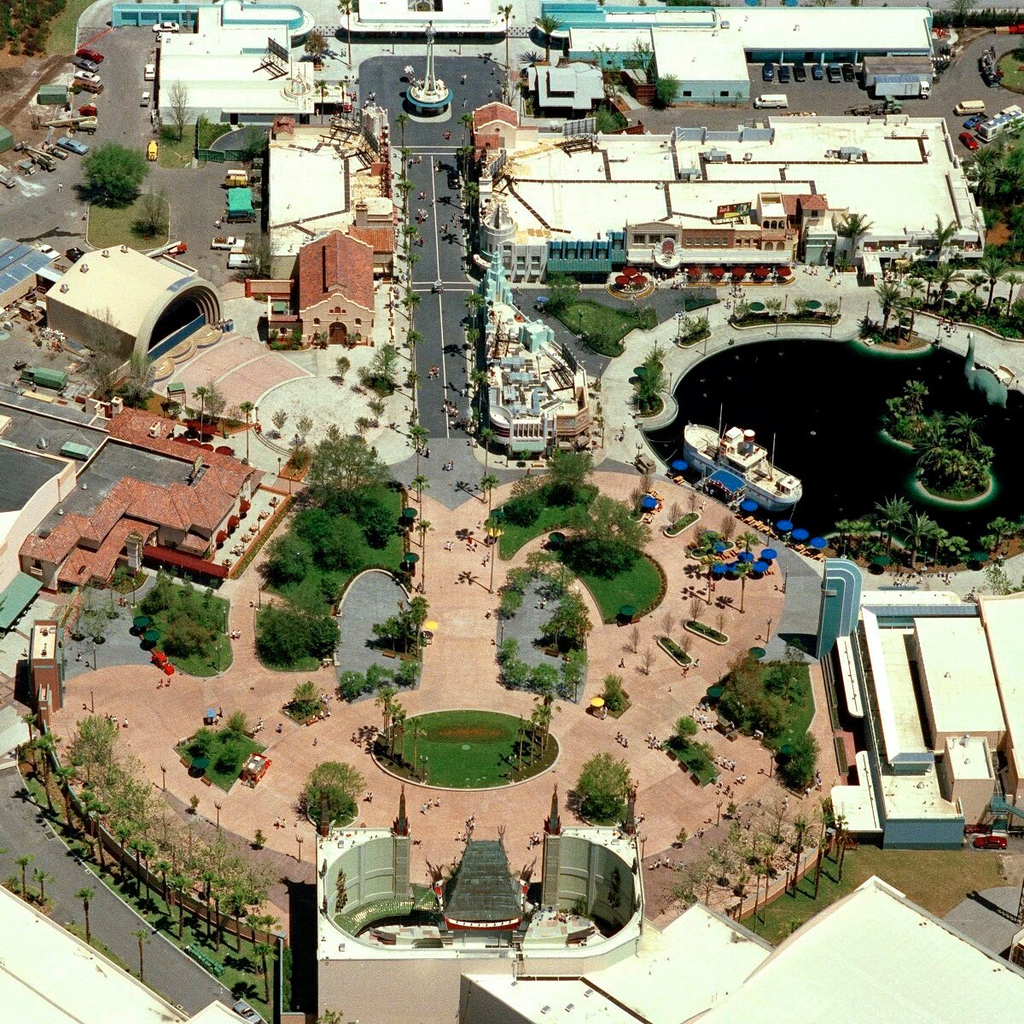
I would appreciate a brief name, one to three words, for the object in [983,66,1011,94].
work vehicle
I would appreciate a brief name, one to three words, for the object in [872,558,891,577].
umbrella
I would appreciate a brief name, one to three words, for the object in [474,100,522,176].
building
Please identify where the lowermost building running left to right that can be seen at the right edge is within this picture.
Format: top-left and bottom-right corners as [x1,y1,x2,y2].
[702,877,1024,1024]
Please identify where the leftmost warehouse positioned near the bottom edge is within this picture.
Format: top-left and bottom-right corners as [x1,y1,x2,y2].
[0,887,198,1024]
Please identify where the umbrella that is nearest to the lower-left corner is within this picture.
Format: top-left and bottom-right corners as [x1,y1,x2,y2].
[189,758,210,779]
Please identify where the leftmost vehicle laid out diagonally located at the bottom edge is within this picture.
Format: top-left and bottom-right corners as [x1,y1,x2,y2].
[231,993,266,1023]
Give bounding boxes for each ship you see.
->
[684,391,805,505]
